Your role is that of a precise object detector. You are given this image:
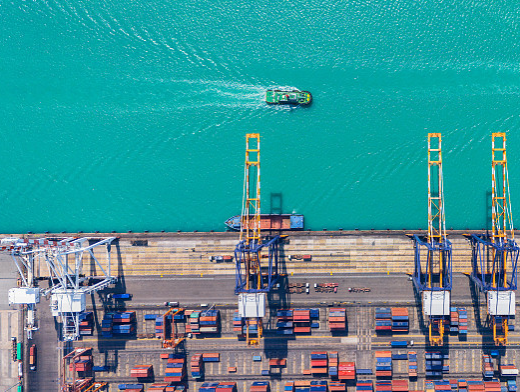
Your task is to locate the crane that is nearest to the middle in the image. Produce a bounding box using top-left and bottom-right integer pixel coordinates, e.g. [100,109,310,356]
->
[230,134,290,347]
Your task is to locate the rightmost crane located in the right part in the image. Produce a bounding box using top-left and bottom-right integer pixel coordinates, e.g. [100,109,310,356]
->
[463,133,520,346]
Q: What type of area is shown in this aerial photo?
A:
port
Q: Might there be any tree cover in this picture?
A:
No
